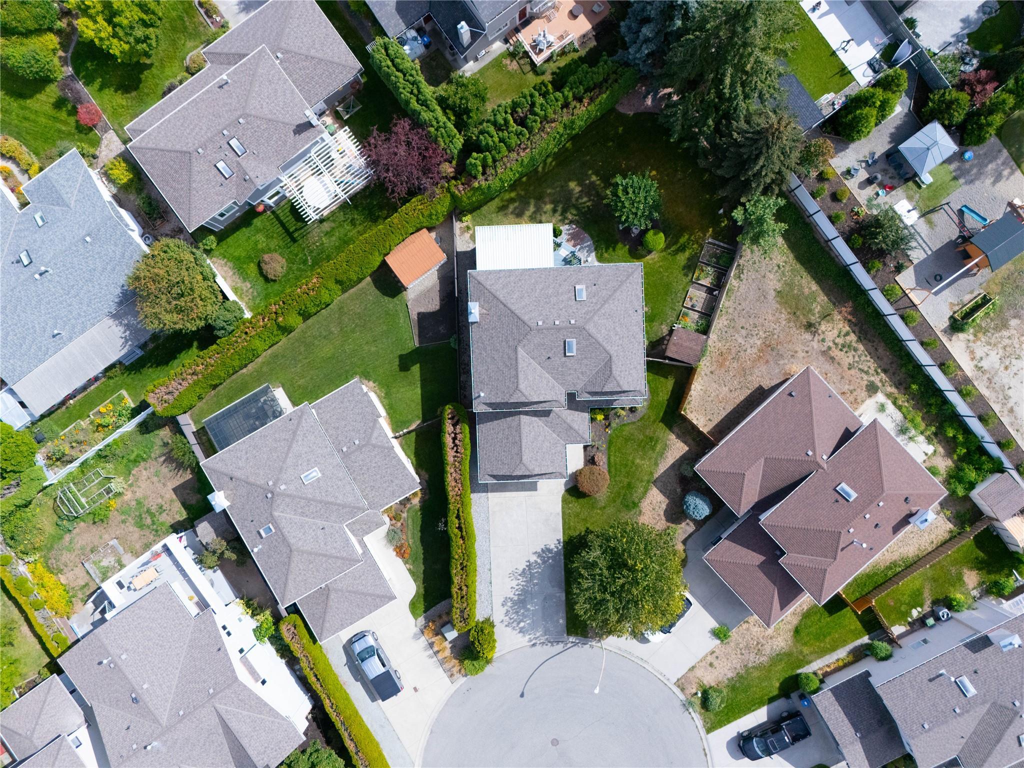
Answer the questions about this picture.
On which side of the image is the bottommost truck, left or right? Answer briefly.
right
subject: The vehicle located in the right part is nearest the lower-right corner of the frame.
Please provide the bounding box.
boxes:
[736,709,814,761]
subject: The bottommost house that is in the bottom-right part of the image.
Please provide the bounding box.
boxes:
[807,589,1024,768]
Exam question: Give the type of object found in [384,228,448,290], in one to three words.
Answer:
shed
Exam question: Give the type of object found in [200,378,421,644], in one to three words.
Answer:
house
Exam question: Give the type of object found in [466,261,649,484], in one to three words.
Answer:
house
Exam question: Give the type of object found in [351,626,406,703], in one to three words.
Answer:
truck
